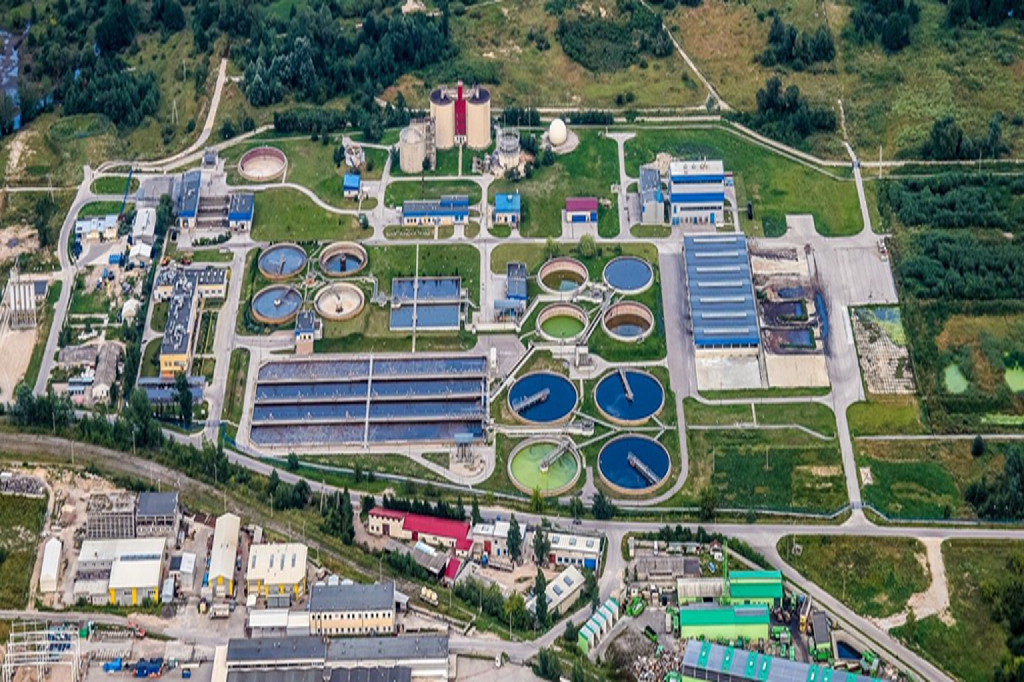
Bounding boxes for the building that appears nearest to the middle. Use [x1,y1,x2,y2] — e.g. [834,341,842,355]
[506,262,526,310]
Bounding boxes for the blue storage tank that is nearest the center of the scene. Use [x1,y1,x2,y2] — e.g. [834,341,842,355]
[507,368,578,425]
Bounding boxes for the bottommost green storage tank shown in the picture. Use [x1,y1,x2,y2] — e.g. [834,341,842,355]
[506,433,581,496]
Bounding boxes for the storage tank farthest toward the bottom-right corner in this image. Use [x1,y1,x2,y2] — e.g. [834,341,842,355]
[597,431,672,493]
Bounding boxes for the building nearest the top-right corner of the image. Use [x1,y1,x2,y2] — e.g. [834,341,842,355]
[666,160,732,225]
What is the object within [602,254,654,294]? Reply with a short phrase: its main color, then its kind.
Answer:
blue storage tank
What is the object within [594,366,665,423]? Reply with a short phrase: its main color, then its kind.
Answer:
blue storage tank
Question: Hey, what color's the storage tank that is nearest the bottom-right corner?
blue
